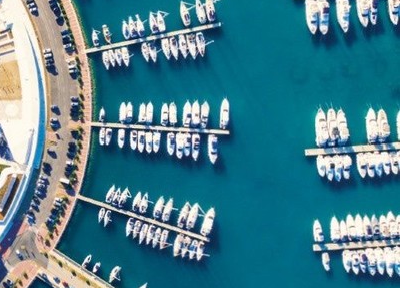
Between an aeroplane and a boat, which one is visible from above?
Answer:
boat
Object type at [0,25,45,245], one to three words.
building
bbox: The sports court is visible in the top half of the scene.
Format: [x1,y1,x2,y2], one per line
[0,60,22,101]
